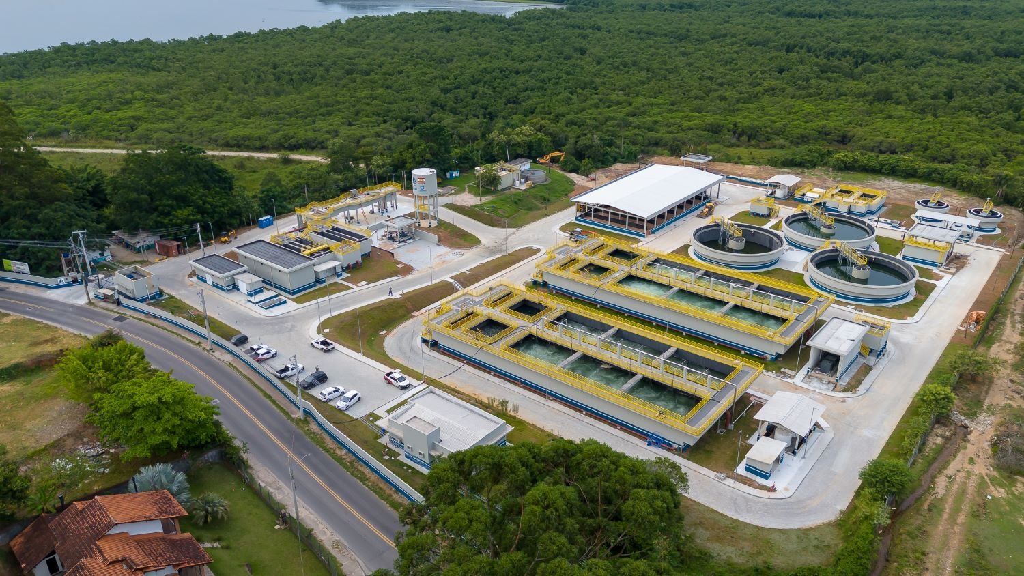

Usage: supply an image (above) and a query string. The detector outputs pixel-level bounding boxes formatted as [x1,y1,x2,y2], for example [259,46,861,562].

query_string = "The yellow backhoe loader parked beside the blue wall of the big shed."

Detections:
[696,200,718,217]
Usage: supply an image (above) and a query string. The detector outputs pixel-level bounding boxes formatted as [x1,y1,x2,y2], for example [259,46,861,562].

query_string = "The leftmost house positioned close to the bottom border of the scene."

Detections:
[7,486,221,576]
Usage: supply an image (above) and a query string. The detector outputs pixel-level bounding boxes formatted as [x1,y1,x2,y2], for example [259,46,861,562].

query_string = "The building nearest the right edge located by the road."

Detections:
[902,222,961,266]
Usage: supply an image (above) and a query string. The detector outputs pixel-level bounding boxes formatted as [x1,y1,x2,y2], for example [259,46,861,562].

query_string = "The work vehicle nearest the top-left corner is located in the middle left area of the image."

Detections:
[219,229,240,243]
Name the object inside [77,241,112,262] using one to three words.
shed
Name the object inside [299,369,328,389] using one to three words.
car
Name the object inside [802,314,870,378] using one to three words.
building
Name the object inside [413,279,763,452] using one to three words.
storage tank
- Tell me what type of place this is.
industrial area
